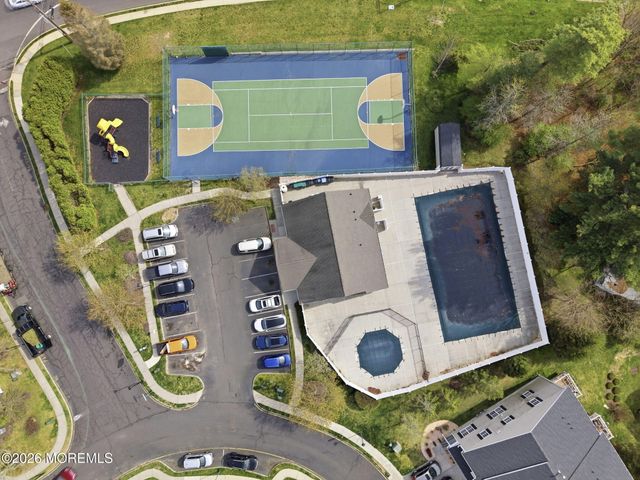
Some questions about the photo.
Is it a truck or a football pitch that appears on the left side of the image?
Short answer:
truck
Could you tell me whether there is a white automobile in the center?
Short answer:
Yes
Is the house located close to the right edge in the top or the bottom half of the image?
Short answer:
bottom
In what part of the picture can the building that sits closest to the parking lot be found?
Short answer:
center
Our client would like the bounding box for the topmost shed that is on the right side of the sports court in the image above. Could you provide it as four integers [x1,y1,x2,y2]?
[436,124,461,170]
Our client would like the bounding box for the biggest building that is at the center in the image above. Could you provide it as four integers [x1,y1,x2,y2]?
[274,189,389,304]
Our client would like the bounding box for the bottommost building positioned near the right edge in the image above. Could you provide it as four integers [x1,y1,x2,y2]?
[439,366,636,480]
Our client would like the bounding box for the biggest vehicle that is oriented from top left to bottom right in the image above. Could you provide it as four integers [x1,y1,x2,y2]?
[11,306,54,359]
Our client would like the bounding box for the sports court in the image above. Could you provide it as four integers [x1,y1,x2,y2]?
[169,50,414,178]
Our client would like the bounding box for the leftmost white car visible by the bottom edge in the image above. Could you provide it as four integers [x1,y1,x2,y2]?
[184,452,214,469]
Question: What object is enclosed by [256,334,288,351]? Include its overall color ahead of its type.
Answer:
blue car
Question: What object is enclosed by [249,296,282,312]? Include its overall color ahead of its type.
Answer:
white car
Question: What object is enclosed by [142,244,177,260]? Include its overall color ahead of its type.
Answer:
white car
